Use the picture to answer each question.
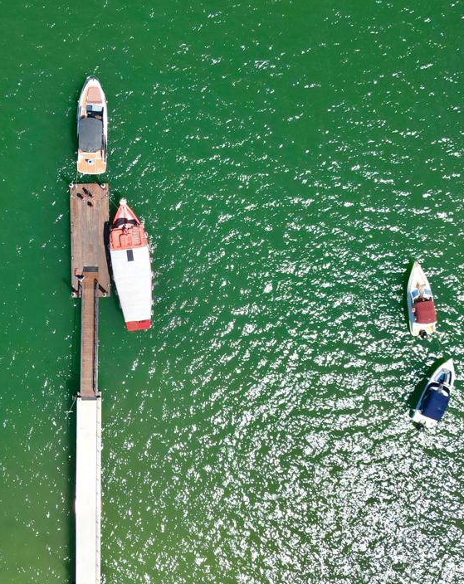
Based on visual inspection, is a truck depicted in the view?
No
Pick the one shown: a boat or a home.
boat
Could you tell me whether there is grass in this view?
No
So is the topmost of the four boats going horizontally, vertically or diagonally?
vertically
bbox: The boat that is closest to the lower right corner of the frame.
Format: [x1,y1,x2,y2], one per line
[414,358,456,428]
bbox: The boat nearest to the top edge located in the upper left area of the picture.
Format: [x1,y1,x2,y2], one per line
[74,75,110,174]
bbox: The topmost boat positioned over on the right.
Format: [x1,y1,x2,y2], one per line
[407,262,437,339]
